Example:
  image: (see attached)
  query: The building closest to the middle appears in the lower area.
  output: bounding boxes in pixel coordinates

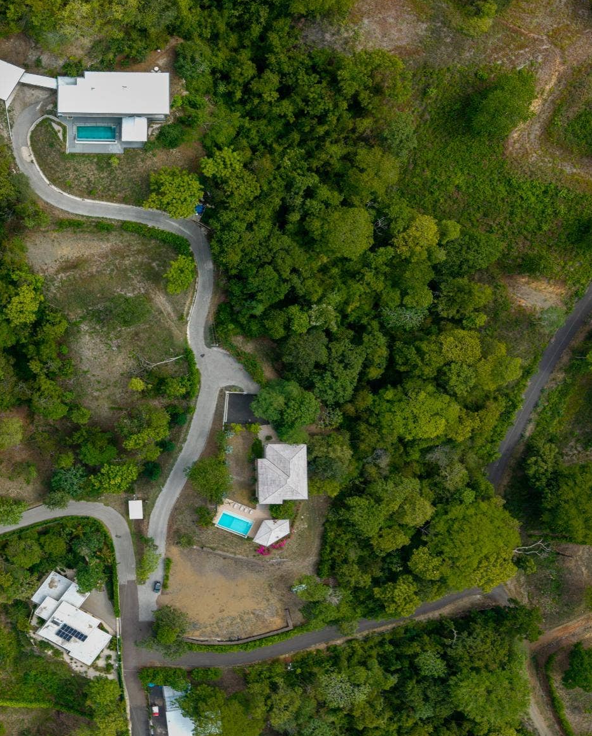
[254,443,308,504]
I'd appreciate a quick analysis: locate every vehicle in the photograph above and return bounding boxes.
[154,581,160,594]
[153,706,160,717]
